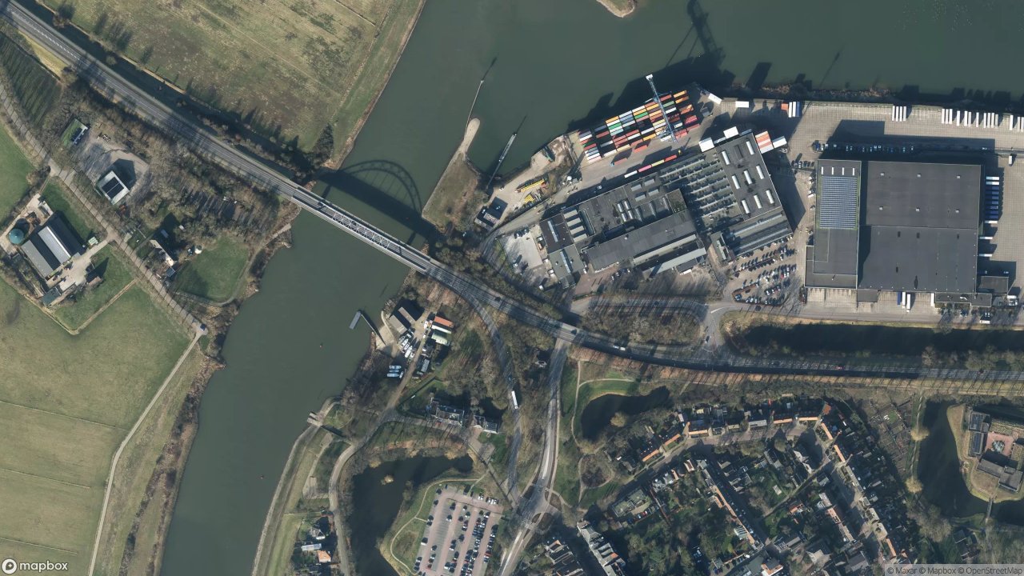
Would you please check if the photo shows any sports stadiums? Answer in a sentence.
No, no sports stadium is visible in the scene.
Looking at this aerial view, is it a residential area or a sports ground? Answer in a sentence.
It's a residential area.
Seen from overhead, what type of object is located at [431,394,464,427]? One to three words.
house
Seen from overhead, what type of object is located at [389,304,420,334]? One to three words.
shed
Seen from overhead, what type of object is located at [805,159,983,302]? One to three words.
warehouse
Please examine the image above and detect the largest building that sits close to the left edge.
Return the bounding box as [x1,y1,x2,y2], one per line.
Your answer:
[21,219,81,278]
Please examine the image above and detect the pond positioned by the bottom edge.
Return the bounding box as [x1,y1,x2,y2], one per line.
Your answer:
[349,454,472,576]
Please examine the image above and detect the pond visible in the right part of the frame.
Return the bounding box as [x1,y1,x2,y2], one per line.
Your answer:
[581,386,669,439]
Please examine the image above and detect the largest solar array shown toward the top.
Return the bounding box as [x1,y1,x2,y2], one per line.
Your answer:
[821,176,858,228]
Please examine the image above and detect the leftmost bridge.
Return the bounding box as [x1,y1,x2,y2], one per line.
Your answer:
[296,185,436,275]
